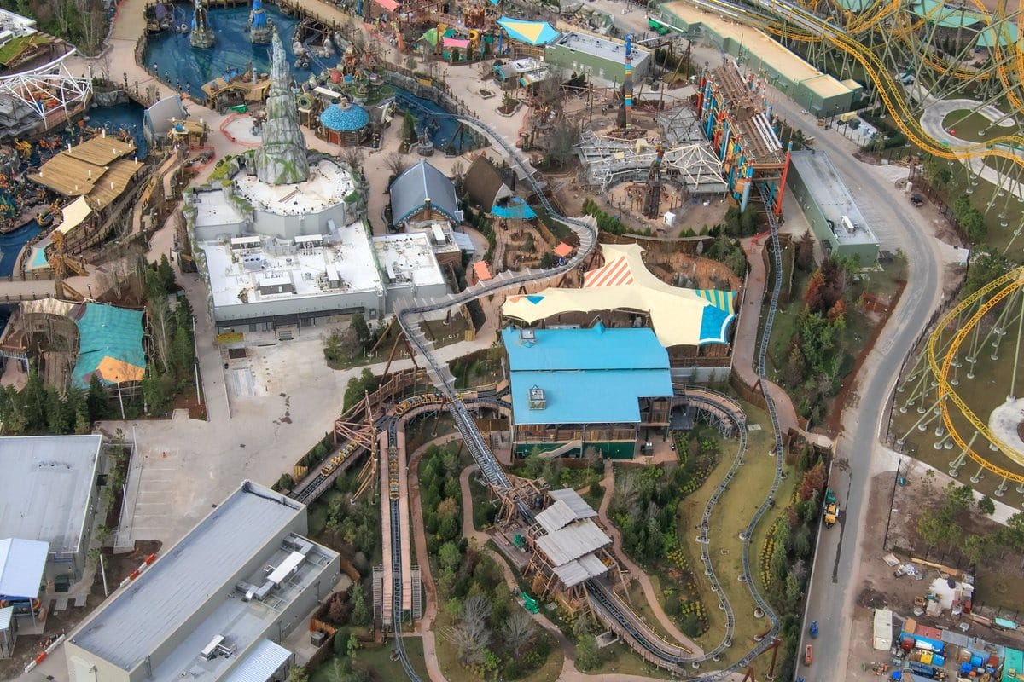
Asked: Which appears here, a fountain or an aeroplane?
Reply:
fountain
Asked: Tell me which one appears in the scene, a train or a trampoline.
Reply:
train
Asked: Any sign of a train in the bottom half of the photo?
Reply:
Yes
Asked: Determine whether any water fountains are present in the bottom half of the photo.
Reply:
No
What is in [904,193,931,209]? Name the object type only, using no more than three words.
vehicle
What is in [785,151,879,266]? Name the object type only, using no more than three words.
building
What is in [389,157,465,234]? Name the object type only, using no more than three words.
barn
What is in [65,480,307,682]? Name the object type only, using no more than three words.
warehouse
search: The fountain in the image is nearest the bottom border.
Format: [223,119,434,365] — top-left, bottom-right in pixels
[410,130,441,161]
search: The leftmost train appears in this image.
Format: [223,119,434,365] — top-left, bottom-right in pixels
[316,437,369,479]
